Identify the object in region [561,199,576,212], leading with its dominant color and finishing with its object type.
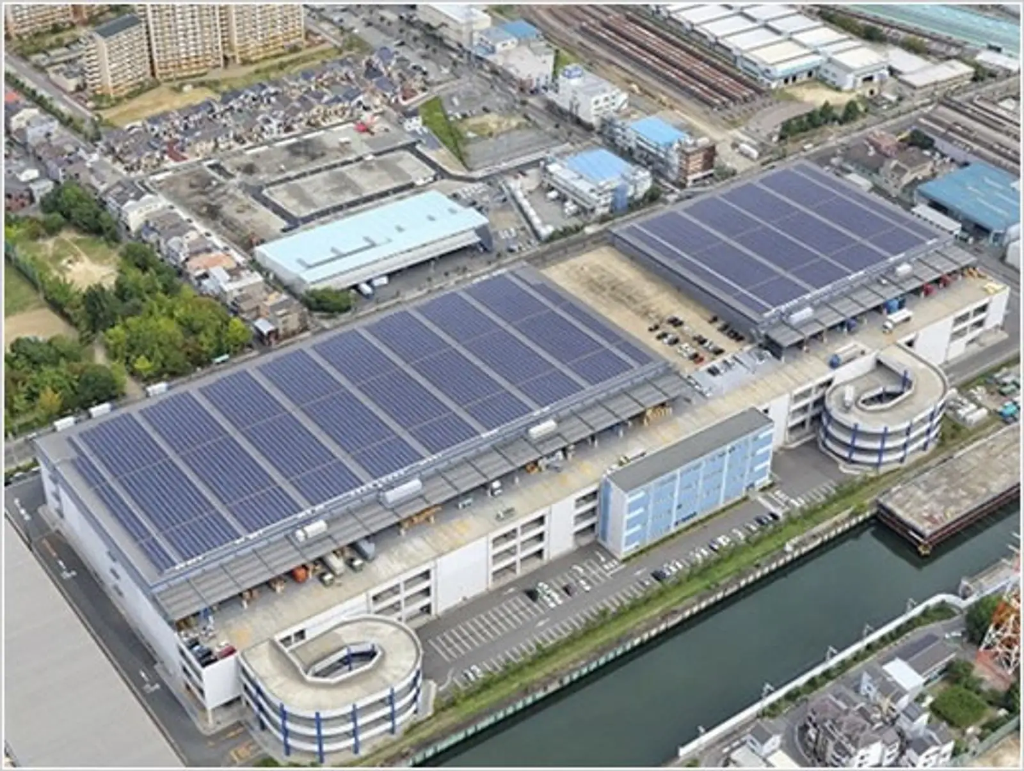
white vehicle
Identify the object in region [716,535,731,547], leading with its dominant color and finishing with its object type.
white vehicle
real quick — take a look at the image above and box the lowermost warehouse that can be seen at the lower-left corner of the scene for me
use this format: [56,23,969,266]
[0,504,187,771]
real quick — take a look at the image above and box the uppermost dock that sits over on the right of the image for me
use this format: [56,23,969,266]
[875,418,1024,550]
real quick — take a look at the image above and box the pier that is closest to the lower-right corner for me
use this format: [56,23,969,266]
[945,544,1024,601]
